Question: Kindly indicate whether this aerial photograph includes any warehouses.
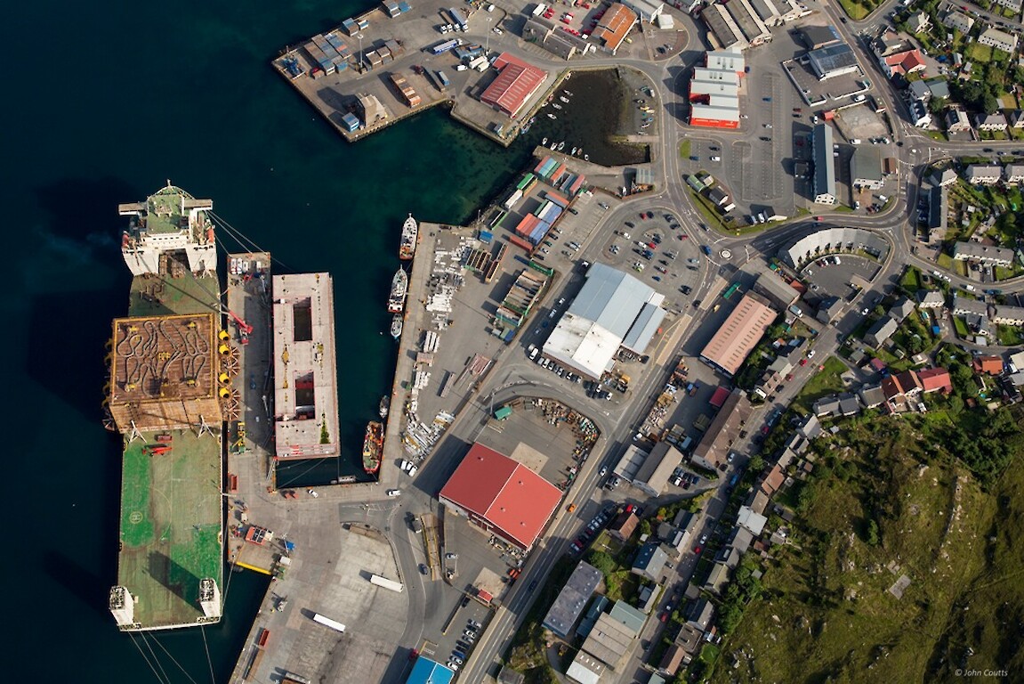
Yes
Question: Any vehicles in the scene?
Yes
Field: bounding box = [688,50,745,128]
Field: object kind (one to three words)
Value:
building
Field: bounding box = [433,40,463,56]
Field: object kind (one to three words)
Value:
vehicle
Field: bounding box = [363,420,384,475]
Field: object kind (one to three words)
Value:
boat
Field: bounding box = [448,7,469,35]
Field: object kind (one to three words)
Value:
truck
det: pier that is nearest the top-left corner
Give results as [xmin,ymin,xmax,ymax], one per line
[272,0,449,145]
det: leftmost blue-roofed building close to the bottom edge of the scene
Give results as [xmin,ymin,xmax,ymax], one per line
[403,654,456,684]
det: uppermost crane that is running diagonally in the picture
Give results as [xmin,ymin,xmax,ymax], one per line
[173,256,254,349]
